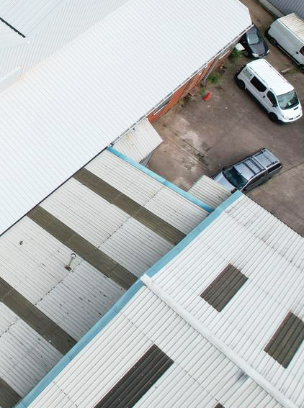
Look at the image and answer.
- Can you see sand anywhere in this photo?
No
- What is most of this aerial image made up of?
buildings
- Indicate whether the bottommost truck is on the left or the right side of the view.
right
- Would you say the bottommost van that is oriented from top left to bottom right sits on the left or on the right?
right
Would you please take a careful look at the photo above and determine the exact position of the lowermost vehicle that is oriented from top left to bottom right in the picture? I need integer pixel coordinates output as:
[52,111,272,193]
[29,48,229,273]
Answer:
[233,53,304,123]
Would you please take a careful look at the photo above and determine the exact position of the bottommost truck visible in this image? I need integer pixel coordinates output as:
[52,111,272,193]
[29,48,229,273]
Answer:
[207,144,290,196]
